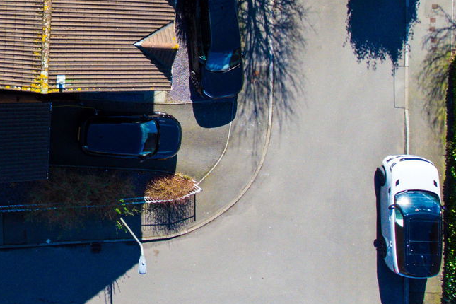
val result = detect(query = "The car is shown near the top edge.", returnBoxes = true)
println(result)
[189,0,248,97]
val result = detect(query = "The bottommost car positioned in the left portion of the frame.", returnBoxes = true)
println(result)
[77,111,182,168]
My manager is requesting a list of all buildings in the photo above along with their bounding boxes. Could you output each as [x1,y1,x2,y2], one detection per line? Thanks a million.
[0,0,181,94]
[0,97,54,182]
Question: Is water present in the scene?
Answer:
No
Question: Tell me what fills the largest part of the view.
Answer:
paved ground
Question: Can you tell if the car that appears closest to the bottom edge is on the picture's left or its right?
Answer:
right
